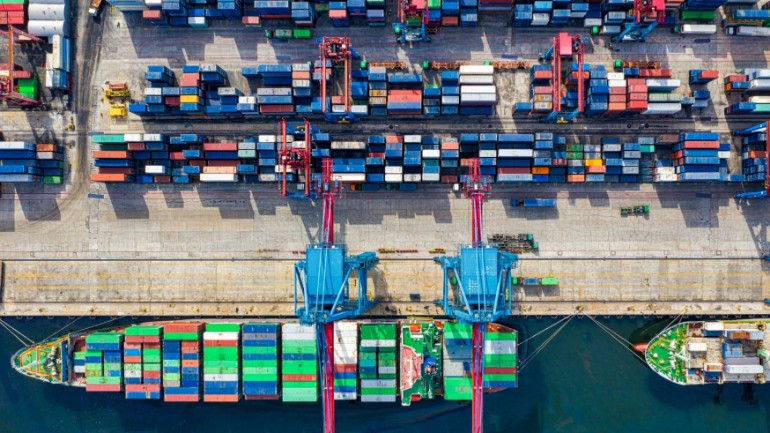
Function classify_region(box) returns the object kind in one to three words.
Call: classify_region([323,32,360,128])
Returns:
container crane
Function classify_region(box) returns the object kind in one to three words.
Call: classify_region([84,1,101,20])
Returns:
vehicle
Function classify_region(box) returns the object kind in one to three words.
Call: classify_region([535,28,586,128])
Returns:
container crane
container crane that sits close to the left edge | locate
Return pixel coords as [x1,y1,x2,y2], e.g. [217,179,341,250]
[0,26,53,108]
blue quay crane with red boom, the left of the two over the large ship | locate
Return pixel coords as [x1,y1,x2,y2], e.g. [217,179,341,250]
[289,153,380,433]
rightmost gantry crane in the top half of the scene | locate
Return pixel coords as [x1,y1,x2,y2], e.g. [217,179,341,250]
[727,120,770,199]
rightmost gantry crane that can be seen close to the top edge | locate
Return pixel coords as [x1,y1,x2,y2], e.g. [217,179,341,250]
[608,0,665,44]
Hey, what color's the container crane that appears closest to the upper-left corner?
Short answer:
red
